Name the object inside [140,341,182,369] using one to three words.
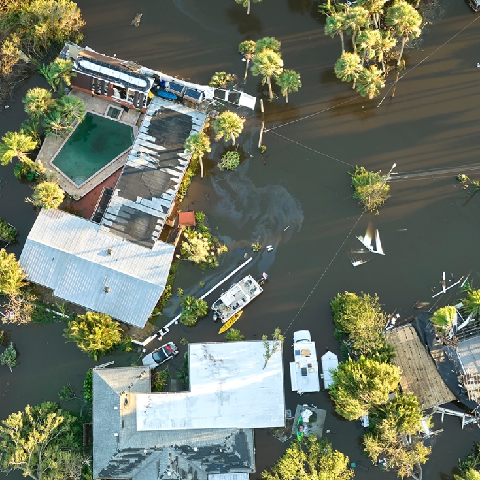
car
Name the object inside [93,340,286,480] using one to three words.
house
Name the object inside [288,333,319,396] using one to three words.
camper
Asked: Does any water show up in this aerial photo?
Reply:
Yes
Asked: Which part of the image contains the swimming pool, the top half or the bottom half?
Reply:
top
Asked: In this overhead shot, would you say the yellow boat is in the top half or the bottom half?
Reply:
bottom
